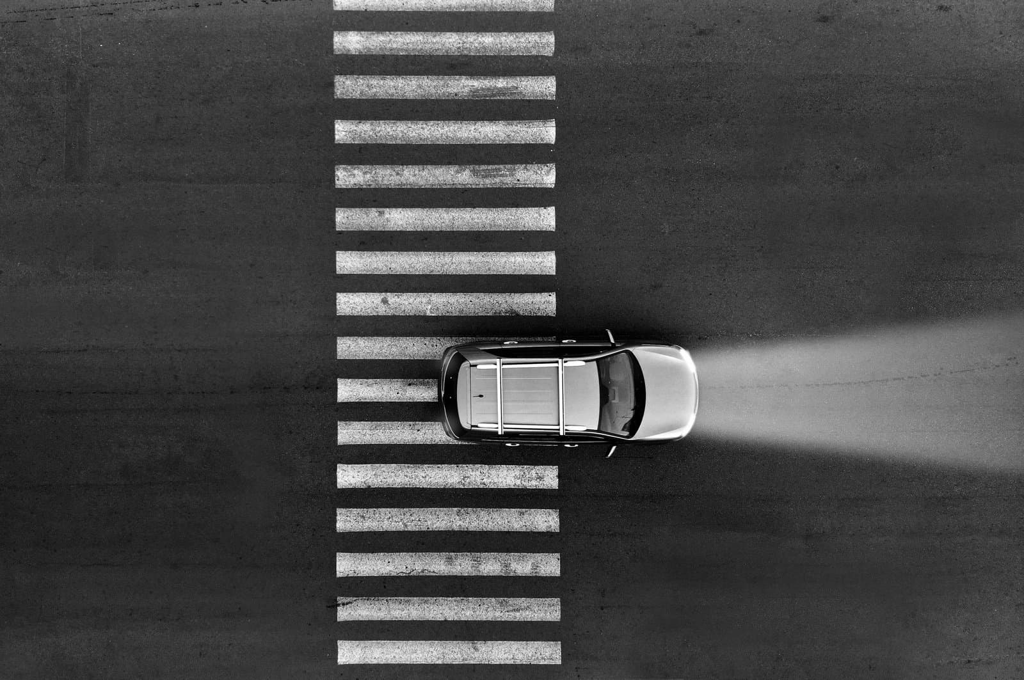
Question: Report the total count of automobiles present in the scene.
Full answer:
The count comes to 1 automobile.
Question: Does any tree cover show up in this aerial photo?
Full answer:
No, there is no tree cover in the image.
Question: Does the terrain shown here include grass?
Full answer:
No, grass can't be seen anywhere here.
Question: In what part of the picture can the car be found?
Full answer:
You can find the car in the center area of the picture.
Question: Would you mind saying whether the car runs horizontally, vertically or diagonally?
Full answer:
The car is oriented horizontally.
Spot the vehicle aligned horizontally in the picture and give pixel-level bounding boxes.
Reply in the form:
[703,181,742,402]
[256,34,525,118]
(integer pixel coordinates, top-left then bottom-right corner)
[438,330,699,459]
